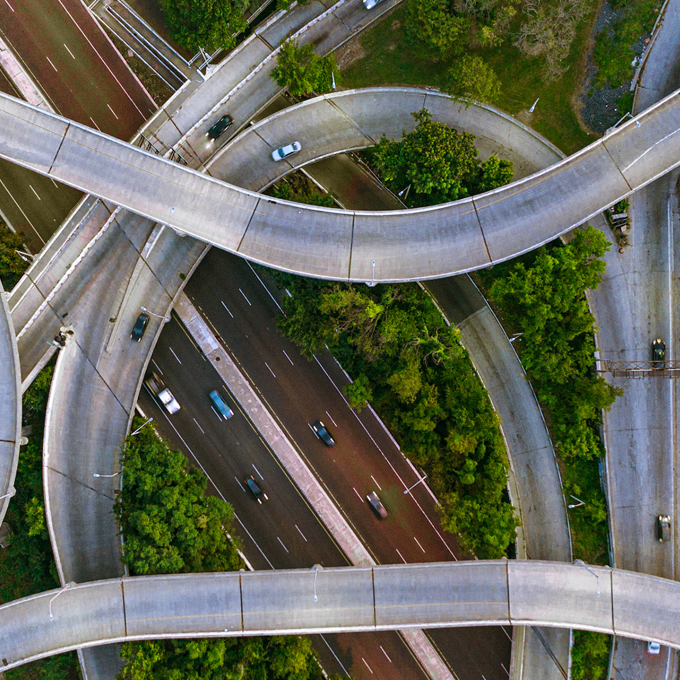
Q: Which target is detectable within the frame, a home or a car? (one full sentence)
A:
Visible in the photo is a car.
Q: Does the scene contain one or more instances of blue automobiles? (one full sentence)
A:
Yes, there is a blue automobile in the image.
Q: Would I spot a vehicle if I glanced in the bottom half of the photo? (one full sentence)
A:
Yes, a vehicle can be seen in the bottom half of the photo.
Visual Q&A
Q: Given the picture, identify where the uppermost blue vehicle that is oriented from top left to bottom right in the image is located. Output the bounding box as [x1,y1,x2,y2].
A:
[208,389,234,420]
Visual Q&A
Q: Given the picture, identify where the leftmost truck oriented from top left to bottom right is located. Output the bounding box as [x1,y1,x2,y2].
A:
[146,372,179,413]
